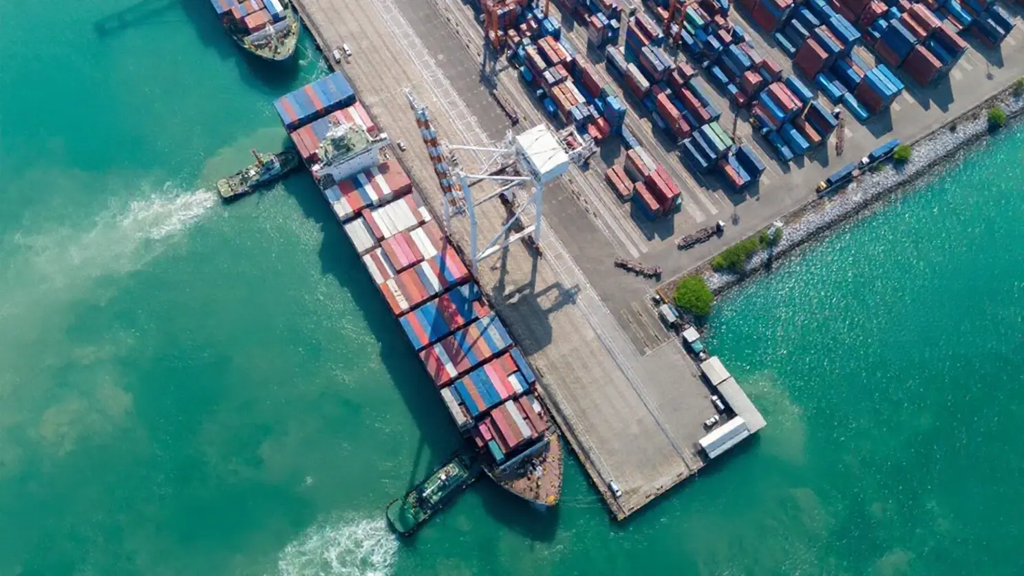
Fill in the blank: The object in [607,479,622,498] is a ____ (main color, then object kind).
white vehicle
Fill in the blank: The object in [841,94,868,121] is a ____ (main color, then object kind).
blue shipping container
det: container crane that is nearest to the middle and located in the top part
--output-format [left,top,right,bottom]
[406,92,601,281]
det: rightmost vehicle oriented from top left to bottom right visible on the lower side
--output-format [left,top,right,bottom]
[708,393,727,414]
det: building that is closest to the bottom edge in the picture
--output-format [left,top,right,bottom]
[695,414,751,463]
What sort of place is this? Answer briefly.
port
